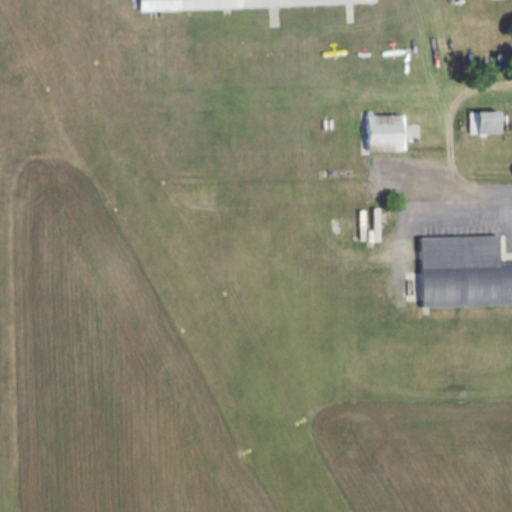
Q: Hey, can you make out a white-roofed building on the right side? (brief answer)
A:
Yes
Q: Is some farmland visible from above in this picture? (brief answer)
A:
Yes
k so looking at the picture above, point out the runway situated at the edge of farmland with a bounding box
[47,64,300,454]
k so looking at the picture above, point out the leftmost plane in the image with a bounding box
[324,44,347,60]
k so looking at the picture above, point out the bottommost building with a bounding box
[421,238,512,306]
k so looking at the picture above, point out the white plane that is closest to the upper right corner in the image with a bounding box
[384,44,406,60]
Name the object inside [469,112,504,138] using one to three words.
house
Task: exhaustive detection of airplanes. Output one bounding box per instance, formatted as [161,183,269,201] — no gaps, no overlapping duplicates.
[358,48,371,58]
[384,44,406,60]
[324,44,347,60]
